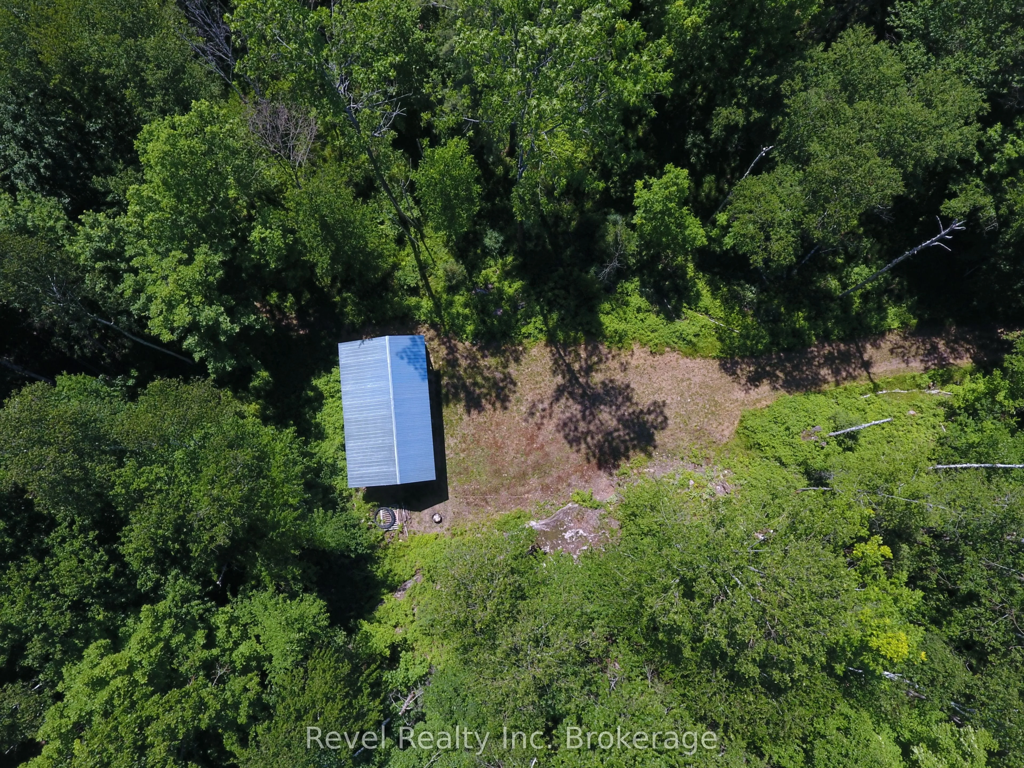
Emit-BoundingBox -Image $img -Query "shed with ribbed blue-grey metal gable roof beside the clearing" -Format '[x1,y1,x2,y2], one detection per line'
[339,334,437,488]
